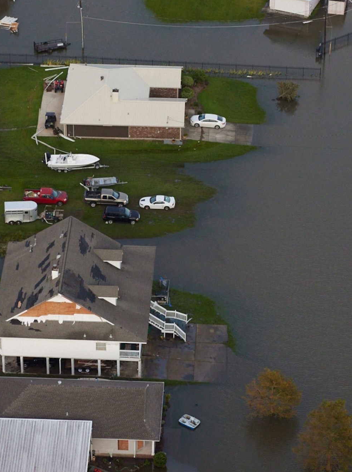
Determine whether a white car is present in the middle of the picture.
Yes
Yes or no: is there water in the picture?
Yes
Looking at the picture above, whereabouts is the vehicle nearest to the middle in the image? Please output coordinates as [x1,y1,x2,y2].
[139,193,176,210]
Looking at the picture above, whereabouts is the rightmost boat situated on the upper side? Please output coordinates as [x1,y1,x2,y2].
[76,174,117,189]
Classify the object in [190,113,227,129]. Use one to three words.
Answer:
car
